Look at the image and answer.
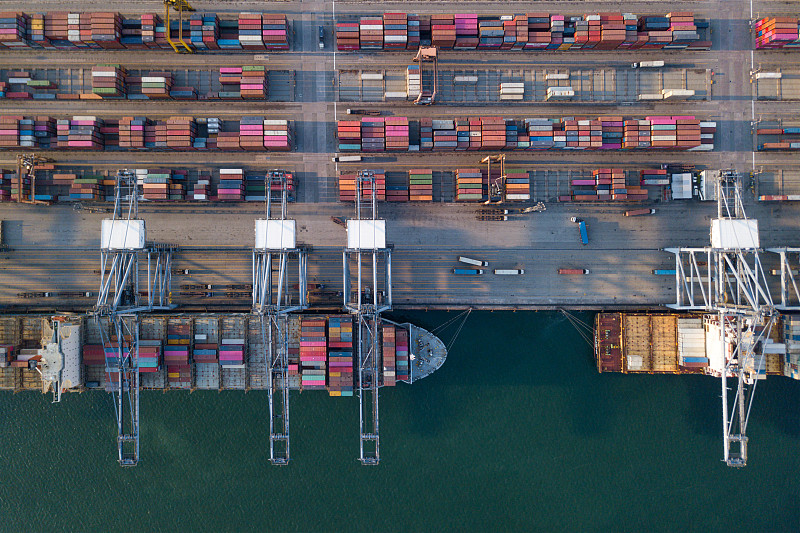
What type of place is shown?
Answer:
port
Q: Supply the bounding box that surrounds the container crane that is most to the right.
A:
[761,244,800,309]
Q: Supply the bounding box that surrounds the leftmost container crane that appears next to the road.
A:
[17,150,56,205]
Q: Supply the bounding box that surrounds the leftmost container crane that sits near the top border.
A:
[164,0,195,52]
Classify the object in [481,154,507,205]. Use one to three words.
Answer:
container crane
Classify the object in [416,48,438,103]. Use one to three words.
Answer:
container crane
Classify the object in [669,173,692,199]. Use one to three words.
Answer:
building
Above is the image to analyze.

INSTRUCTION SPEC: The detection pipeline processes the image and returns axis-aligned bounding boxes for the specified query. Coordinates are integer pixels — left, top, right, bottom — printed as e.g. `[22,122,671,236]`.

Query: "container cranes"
[659,168,781,466]
[416,48,438,103]
[248,167,325,466]
[86,168,193,466]
[17,150,56,205]
[481,154,507,205]
[164,0,195,52]
[337,168,400,466]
